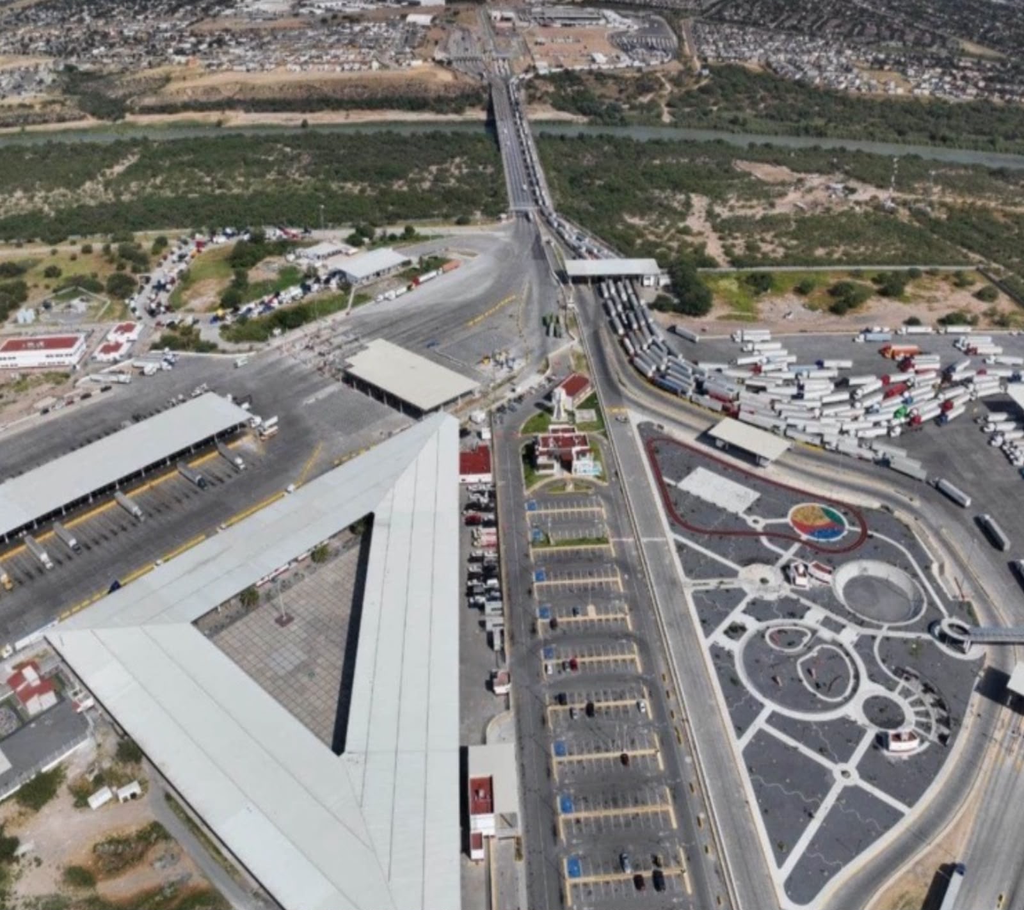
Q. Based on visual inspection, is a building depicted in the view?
Yes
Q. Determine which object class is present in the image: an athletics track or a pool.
athletics track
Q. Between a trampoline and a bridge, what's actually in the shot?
bridge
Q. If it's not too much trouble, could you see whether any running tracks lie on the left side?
No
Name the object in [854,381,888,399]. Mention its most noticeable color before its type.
white vehicle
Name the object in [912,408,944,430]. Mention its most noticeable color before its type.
white truck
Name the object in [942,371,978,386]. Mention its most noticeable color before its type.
white vehicle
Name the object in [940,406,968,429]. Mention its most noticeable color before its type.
white truck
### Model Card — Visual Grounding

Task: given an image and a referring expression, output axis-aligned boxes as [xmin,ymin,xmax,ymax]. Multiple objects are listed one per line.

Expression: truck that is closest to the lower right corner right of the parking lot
[937,854,966,910]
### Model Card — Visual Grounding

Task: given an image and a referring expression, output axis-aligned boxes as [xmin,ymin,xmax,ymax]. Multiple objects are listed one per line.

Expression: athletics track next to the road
[648,436,870,553]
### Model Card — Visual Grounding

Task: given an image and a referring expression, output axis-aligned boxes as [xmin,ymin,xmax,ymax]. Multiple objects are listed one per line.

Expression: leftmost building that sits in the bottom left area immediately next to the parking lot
[48,413,460,910]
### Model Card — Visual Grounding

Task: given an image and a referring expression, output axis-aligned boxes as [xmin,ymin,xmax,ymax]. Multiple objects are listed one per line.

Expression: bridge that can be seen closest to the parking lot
[490,82,561,226]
